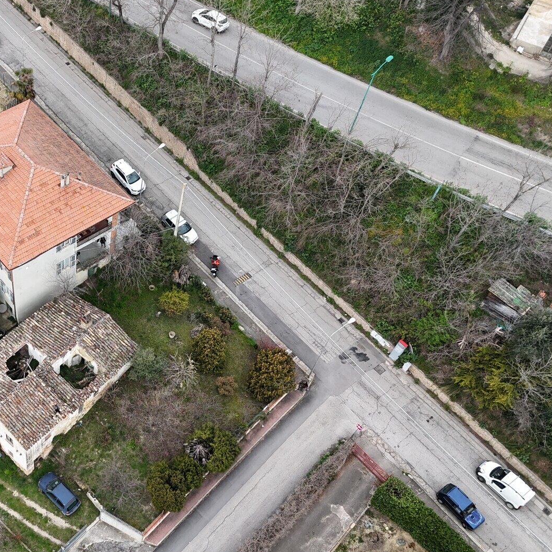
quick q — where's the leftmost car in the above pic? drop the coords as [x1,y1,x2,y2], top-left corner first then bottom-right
[37,471,84,521]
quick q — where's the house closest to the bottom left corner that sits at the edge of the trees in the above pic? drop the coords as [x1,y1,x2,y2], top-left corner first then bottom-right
[0,287,141,474]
